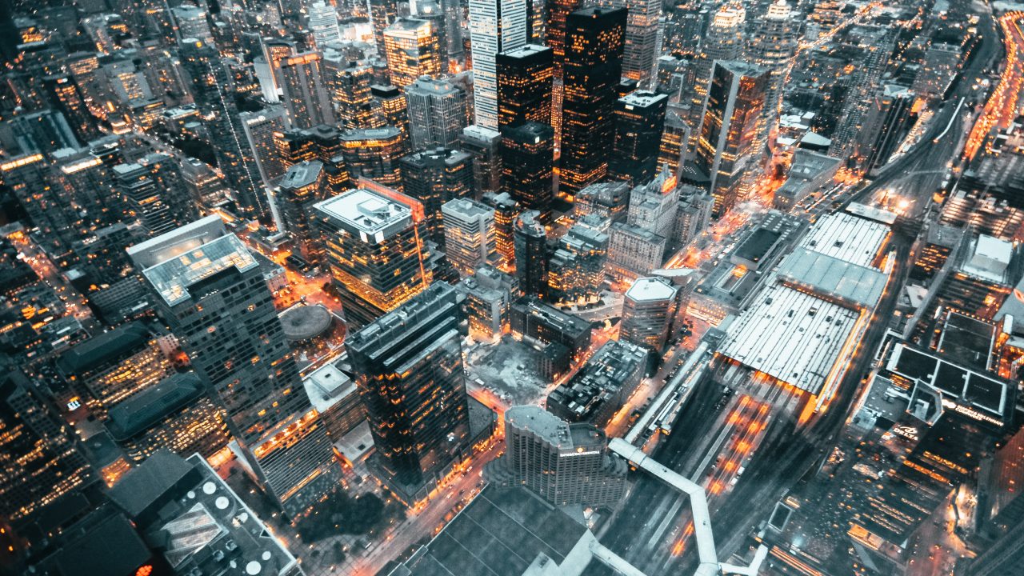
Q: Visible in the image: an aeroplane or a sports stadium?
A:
sports stadium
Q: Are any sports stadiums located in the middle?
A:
No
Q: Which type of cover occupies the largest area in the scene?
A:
buildings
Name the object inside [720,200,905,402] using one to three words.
shed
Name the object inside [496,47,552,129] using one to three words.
building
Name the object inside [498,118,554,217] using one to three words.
building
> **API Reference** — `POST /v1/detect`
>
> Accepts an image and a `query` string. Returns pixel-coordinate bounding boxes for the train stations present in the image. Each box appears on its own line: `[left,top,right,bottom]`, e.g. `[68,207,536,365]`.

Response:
[690,202,807,332]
